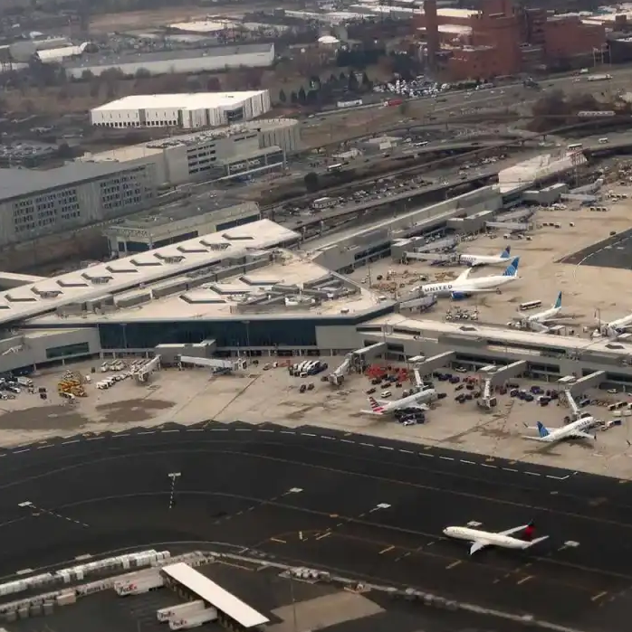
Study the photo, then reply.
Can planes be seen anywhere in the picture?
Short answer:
Yes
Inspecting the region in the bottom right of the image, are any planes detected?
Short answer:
Yes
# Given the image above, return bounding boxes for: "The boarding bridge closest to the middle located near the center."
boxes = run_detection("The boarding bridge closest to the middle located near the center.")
[328,337,386,385]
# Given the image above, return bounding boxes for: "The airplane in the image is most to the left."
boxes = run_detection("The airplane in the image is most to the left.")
[362,390,435,415]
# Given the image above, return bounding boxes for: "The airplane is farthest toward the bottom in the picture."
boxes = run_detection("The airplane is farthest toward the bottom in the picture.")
[442,516,545,555]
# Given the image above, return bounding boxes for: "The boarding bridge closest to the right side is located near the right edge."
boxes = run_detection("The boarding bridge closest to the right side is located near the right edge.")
[603,322,632,343]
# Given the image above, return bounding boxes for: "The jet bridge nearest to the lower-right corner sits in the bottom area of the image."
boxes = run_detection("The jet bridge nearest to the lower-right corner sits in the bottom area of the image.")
[557,366,605,420]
